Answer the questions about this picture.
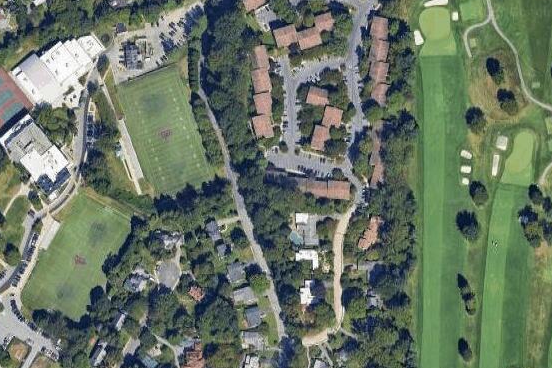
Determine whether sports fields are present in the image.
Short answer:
Yes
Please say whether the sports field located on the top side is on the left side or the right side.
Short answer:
left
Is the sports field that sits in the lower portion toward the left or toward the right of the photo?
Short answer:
left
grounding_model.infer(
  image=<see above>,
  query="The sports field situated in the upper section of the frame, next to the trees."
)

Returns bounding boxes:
[117,62,212,197]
